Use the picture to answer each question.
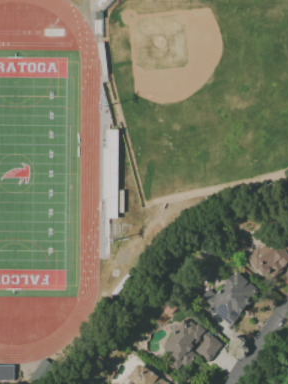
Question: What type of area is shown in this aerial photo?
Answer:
sports ground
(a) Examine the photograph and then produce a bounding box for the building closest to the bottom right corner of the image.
[196,334,222,362]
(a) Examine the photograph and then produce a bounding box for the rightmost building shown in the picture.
[251,245,288,278]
